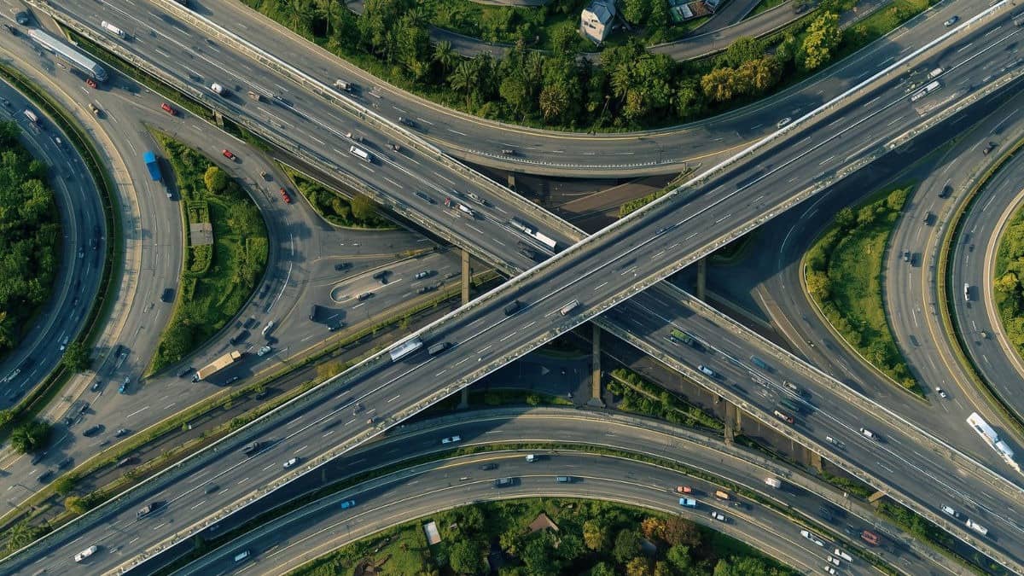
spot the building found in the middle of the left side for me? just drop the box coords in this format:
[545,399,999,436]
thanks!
[188,224,213,249]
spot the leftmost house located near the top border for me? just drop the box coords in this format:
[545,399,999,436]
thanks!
[583,0,619,42]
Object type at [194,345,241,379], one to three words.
truck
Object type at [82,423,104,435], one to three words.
vehicle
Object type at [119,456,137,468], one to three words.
vehicle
